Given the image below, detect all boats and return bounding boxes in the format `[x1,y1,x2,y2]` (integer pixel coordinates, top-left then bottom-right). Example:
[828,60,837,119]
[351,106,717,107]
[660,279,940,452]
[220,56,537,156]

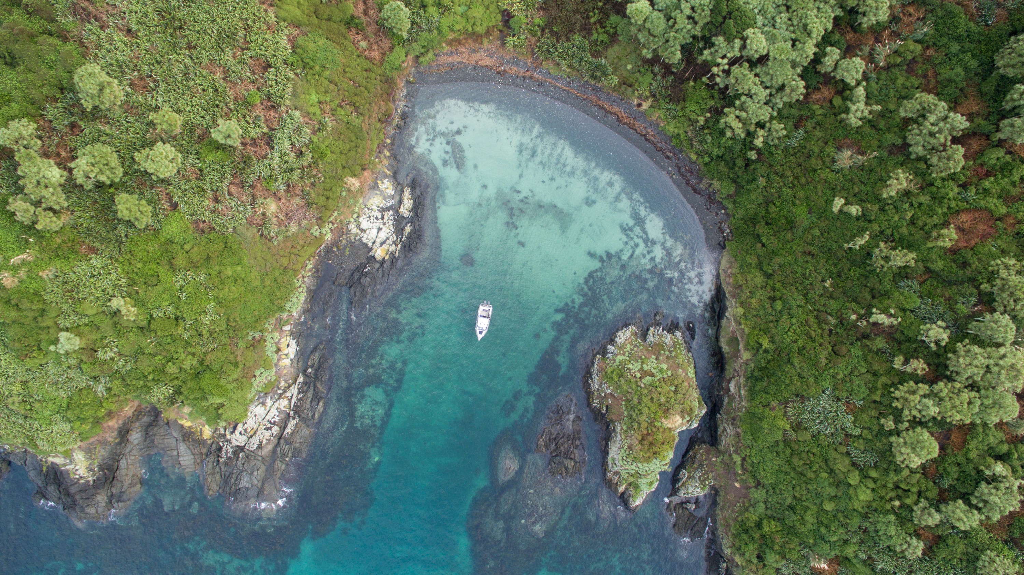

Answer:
[476,301,492,342]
